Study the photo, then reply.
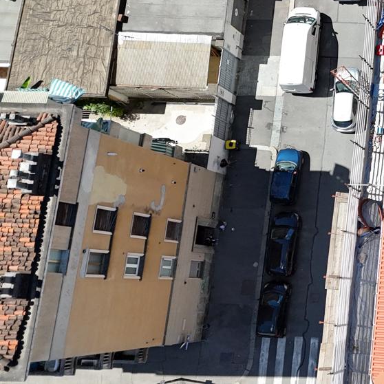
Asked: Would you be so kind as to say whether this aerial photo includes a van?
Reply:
Yes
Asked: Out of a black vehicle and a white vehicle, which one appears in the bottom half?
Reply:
black vehicle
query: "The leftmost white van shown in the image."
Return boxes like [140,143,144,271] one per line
[280,8,324,93]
